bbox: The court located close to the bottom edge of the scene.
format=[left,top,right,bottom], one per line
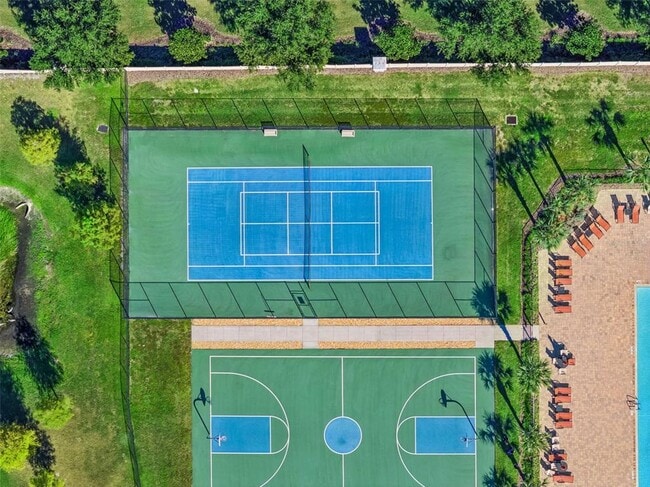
[192,349,494,487]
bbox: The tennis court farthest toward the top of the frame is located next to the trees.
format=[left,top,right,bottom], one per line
[128,130,493,317]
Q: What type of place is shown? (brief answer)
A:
sports ground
